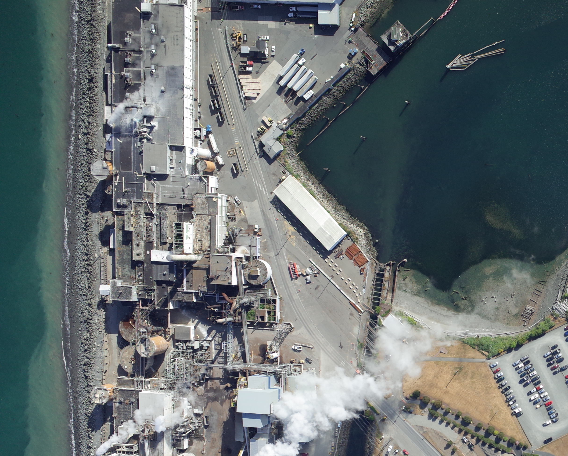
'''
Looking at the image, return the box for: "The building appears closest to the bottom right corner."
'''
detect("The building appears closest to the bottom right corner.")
[382,314,409,343]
